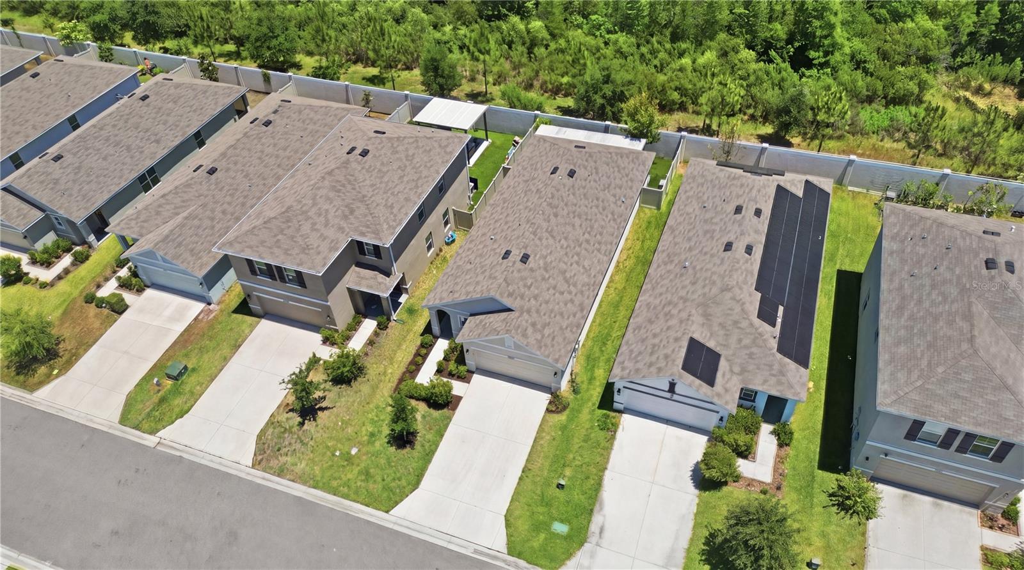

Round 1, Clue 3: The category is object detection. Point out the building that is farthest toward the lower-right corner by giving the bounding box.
[859,202,1024,512]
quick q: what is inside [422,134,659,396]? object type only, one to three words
house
